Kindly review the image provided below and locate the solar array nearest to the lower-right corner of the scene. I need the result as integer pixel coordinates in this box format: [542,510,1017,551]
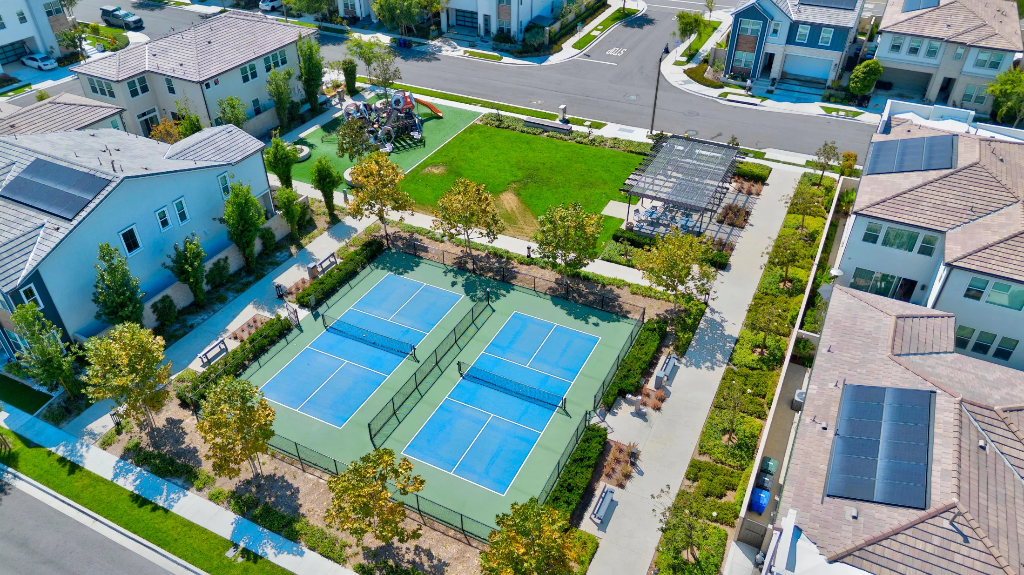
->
[825,381,939,512]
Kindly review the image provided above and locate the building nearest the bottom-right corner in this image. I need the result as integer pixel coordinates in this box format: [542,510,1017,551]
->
[754,285,1024,575]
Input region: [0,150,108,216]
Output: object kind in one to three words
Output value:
solar array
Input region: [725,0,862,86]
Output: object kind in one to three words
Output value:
house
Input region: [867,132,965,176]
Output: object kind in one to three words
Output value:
solar array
